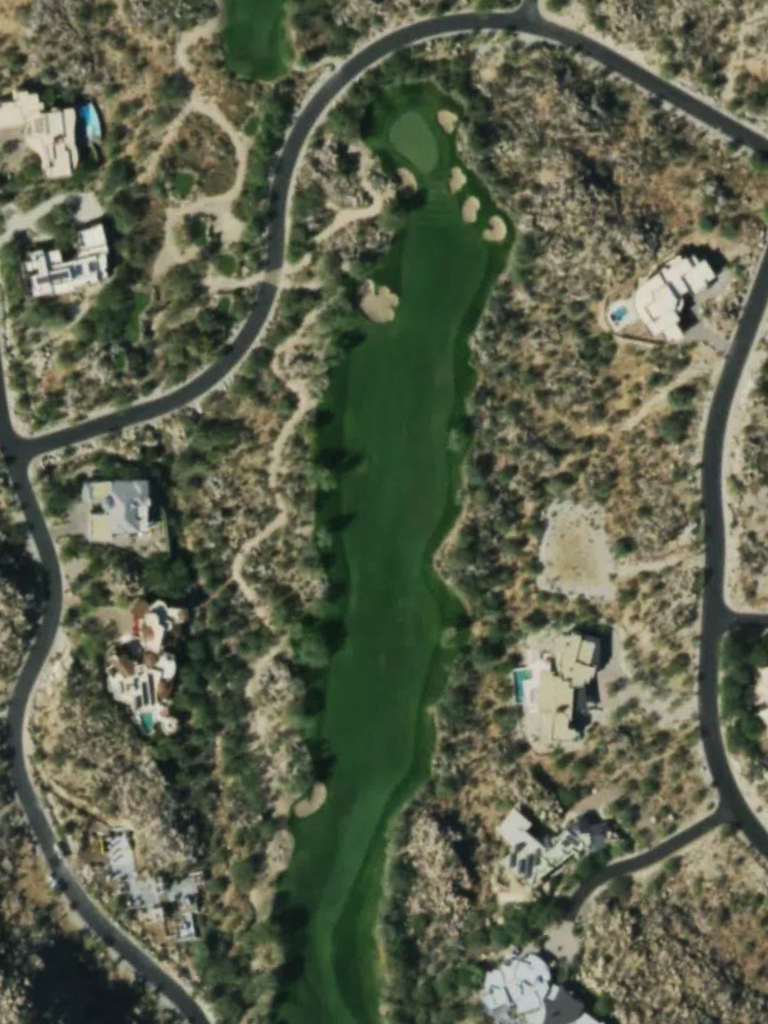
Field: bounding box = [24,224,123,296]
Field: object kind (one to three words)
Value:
house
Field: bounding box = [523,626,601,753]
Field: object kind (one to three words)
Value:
house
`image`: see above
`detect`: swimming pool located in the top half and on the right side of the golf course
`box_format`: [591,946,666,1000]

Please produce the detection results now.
[608,304,629,323]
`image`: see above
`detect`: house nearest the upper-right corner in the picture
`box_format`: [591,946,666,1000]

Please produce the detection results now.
[608,255,716,343]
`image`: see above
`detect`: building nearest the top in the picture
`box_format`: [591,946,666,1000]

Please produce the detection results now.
[0,90,103,178]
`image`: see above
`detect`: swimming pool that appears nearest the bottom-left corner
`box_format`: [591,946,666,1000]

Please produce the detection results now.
[140,710,155,733]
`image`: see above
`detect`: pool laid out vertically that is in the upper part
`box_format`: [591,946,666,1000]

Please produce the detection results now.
[79,101,102,145]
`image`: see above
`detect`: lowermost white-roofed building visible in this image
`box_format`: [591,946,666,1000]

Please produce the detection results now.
[483,950,551,1024]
